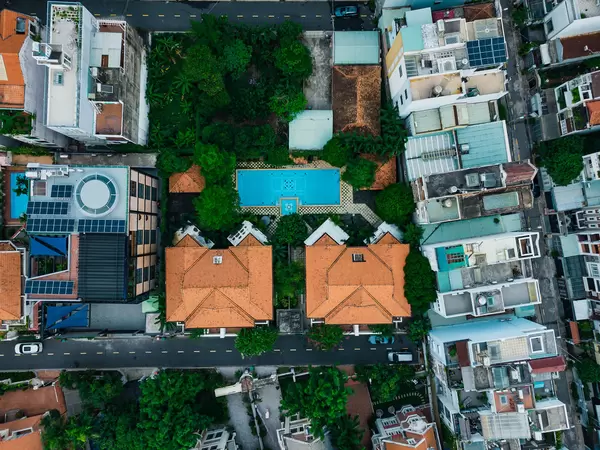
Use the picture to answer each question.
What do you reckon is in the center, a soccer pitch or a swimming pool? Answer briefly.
swimming pool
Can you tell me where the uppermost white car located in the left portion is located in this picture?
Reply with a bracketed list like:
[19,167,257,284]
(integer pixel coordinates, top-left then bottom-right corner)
[16,341,44,355]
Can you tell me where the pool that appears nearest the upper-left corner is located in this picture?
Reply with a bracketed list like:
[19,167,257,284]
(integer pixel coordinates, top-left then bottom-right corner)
[8,172,27,224]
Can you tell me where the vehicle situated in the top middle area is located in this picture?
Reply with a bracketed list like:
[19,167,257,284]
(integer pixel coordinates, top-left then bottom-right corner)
[333,4,359,18]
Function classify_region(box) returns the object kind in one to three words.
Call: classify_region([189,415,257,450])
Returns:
house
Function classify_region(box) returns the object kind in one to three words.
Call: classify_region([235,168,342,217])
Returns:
swimming pool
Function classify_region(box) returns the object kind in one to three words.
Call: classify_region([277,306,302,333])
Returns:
building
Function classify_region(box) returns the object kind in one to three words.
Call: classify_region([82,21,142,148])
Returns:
house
